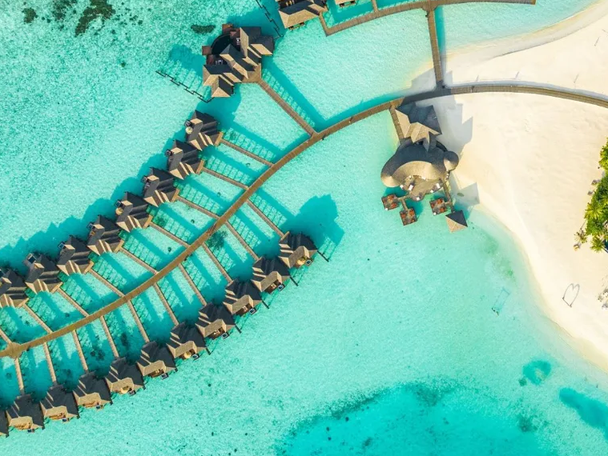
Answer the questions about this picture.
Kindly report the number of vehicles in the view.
zero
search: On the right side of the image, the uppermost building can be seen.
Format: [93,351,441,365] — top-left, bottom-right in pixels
[395,99,443,144]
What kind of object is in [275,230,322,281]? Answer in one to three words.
house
